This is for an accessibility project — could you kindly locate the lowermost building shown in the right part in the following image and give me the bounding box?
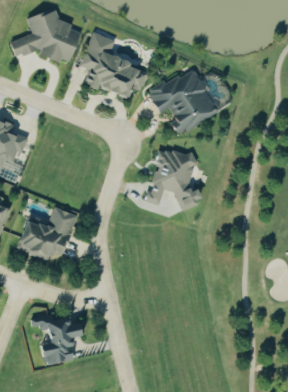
[146,148,205,210]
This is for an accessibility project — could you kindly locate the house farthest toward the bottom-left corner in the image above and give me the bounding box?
[31,320,84,366]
